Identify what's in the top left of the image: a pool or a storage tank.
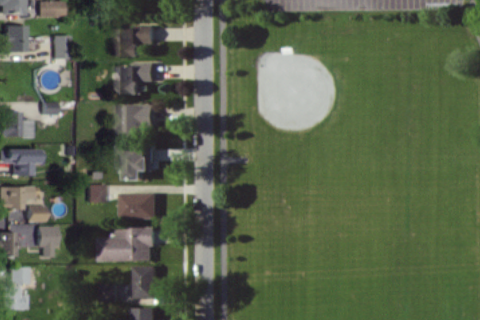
pool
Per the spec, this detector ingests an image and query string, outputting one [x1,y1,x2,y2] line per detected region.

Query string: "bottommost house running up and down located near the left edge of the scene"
[11,268,32,312]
